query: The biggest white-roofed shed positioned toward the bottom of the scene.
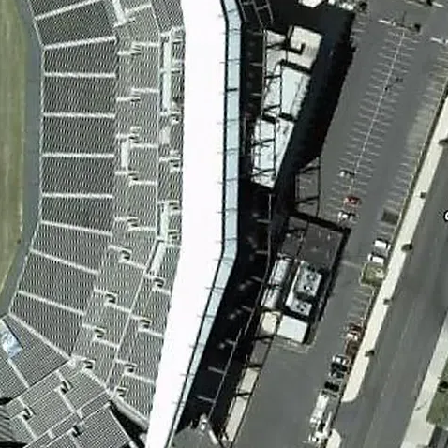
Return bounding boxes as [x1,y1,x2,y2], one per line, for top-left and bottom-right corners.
[277,316,309,343]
